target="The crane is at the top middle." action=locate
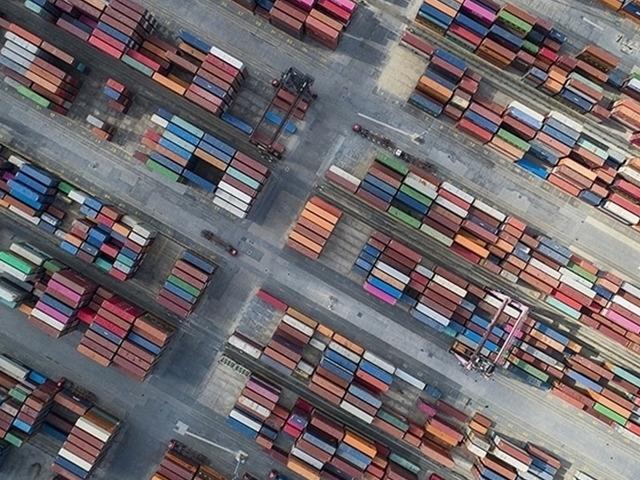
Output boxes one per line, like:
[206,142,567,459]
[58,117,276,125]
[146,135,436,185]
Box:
[246,63,319,161]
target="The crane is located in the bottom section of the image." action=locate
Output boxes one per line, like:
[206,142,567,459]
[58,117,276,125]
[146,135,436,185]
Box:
[448,283,531,377]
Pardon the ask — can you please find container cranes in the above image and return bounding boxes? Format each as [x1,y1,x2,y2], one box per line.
[448,283,531,377]
[246,63,319,161]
